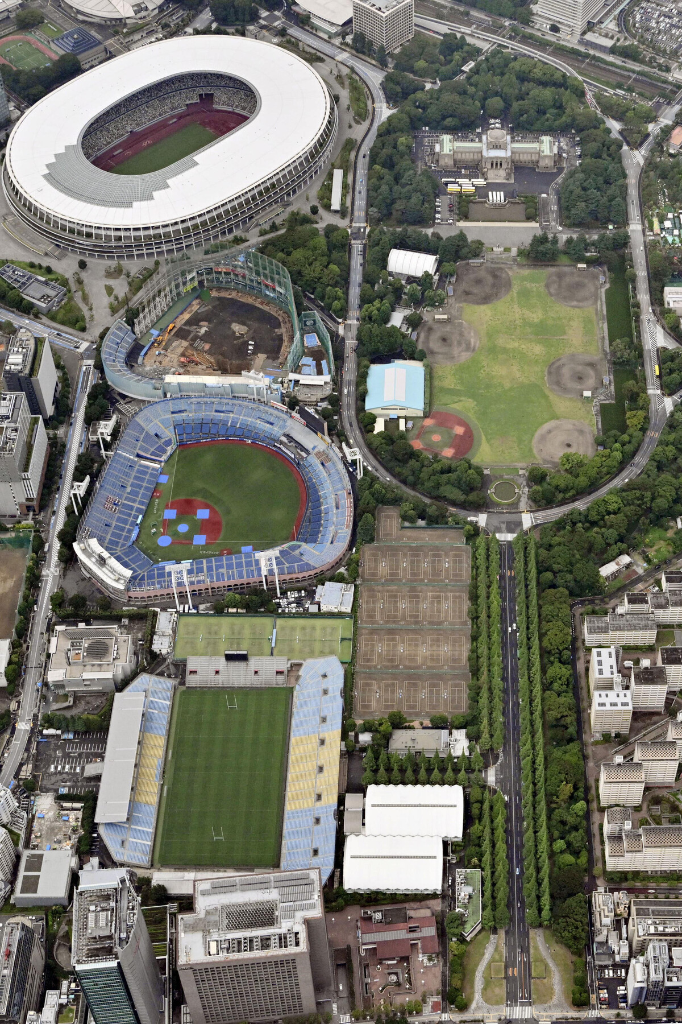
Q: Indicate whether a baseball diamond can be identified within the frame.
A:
Yes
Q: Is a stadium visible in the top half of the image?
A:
Yes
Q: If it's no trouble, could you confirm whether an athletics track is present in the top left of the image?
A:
Yes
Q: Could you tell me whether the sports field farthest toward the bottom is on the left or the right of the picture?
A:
left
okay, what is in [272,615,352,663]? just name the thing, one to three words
sports court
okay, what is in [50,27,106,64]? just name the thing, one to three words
building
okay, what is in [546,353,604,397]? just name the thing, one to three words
baseball field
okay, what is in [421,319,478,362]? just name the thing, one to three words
baseball field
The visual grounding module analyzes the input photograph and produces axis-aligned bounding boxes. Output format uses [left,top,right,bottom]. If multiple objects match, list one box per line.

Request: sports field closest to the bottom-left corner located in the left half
[159,689,291,864]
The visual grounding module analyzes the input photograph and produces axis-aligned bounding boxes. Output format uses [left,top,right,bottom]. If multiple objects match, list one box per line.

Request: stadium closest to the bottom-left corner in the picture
[83,655,345,893]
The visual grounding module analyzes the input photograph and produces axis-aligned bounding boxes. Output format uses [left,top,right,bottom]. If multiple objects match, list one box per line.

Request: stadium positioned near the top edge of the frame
[0,34,338,265]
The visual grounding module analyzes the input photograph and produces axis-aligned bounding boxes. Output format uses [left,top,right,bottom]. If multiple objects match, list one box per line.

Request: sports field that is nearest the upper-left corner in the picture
[0,41,60,80]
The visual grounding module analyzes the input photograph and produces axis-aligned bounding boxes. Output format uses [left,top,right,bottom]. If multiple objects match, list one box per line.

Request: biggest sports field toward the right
[422,266,605,465]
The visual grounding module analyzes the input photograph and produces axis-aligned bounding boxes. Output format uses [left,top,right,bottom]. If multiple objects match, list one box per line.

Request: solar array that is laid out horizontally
[200,874,316,920]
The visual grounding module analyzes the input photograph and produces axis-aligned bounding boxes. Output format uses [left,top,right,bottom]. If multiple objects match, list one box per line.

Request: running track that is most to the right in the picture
[94,107,251,172]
